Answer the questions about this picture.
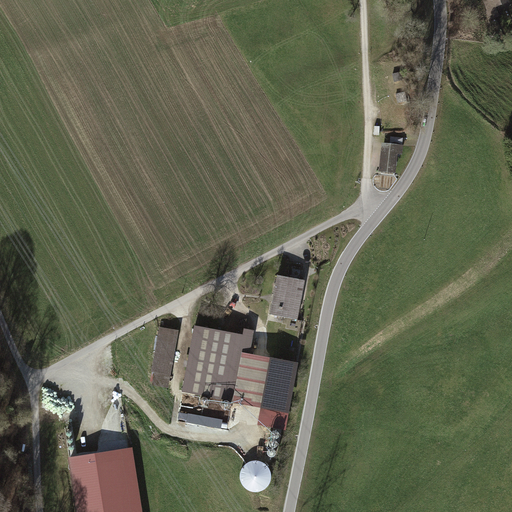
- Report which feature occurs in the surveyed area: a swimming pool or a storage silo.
storage silo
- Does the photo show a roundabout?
No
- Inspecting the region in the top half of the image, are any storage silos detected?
No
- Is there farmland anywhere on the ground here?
Yes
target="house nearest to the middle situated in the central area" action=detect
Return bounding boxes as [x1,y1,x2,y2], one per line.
[270,276,304,321]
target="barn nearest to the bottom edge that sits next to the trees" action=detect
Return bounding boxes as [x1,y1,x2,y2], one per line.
[70,448,142,512]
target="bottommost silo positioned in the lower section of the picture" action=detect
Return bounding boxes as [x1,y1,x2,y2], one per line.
[240,460,271,492]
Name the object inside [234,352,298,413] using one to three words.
barn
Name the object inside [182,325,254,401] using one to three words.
barn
